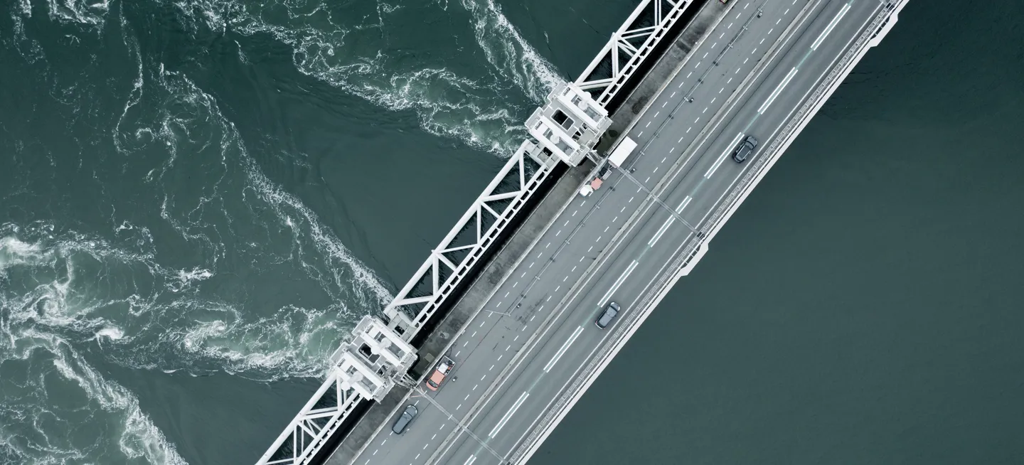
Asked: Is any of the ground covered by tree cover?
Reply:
No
